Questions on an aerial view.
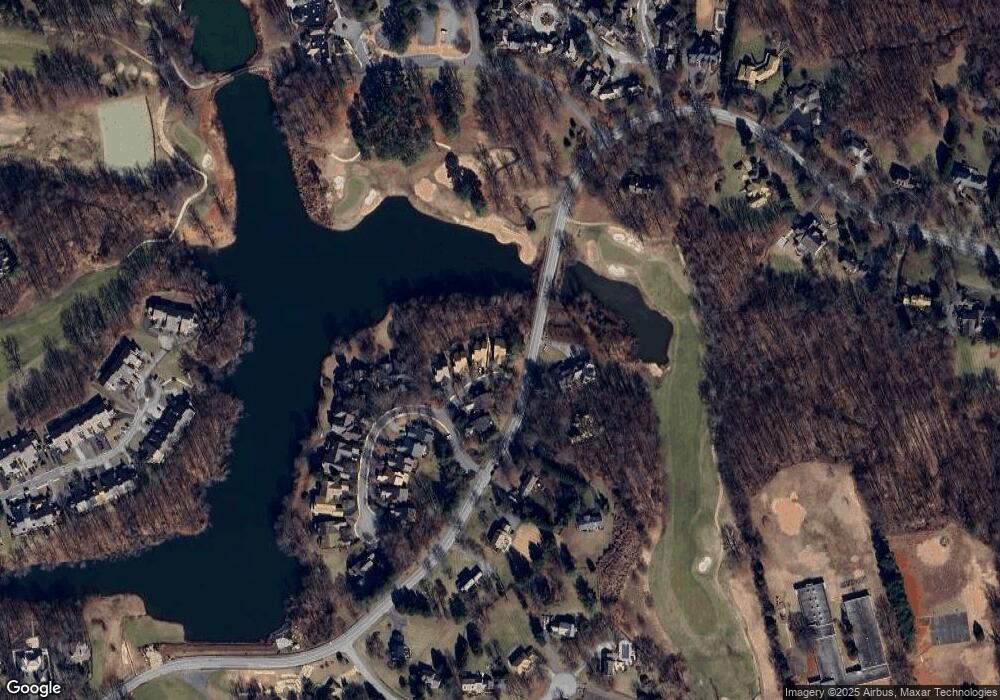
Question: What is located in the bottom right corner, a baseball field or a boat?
baseball field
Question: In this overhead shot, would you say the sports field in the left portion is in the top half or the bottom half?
top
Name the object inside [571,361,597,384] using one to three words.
house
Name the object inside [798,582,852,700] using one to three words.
building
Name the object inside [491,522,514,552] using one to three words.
house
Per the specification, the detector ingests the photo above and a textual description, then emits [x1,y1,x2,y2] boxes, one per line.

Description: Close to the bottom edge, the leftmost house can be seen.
[20,652,47,681]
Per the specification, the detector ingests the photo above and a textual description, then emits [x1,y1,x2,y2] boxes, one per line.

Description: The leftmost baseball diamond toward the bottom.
[772,495,804,527]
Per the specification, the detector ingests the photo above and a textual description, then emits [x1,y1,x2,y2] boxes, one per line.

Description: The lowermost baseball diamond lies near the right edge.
[916,535,951,564]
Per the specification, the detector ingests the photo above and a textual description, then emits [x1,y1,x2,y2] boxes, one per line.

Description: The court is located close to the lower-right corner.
[931,612,970,645]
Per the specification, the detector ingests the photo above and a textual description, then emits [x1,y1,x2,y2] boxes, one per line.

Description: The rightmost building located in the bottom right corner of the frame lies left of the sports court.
[844,595,891,689]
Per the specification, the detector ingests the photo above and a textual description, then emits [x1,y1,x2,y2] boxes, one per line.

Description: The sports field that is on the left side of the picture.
[97,97,155,168]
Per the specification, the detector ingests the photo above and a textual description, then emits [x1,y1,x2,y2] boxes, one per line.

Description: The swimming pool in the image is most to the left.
[619,641,632,661]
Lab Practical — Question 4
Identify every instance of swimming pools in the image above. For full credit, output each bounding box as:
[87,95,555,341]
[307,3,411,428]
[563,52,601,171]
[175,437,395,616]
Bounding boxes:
[715,11,726,30]
[619,641,632,661]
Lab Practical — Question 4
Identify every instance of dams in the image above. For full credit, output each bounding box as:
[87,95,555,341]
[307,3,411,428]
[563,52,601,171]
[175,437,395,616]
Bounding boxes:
[187,641,273,654]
